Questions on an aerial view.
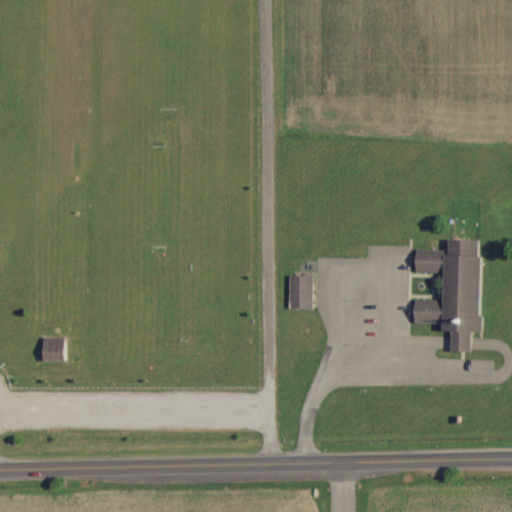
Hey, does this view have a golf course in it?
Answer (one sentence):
No, there isn't any golf course down there.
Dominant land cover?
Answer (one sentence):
Most of the picture is covered by grass.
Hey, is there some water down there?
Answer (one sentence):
No, the picture contains no water.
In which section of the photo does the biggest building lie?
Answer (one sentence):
Look in the right portion of the view to spot the biggest building.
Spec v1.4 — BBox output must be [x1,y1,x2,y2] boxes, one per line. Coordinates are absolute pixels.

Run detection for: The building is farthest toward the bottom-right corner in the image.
[412,240,482,352]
